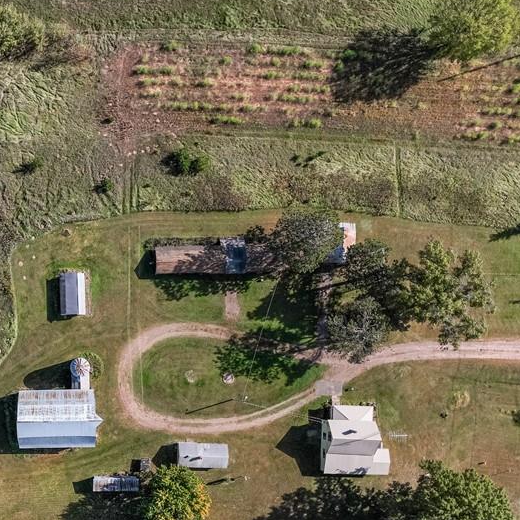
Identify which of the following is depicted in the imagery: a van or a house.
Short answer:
house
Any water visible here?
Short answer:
No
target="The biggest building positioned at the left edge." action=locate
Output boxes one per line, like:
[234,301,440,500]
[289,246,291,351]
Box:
[18,389,104,449]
